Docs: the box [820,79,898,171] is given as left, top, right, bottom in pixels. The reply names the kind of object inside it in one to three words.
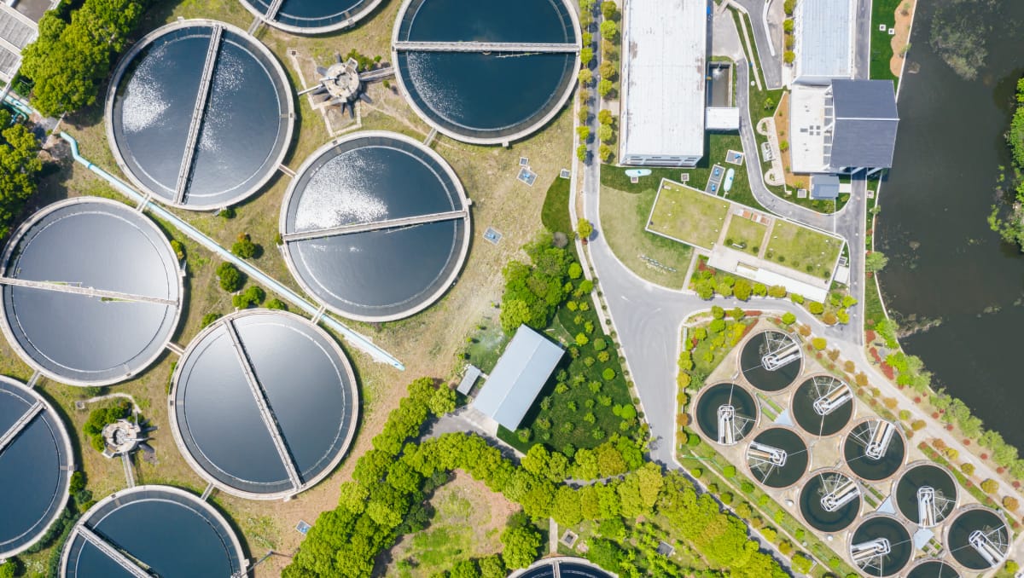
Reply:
building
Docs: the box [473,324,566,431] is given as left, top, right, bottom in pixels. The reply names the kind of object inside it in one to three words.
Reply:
shed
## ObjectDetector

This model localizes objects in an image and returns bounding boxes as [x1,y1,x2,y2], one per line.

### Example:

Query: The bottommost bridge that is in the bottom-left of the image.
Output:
[73,522,158,578]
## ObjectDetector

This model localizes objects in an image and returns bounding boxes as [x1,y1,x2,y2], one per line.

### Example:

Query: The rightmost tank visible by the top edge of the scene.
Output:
[392,0,582,149]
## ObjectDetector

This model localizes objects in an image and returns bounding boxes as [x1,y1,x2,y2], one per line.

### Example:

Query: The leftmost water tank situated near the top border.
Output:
[105,16,298,213]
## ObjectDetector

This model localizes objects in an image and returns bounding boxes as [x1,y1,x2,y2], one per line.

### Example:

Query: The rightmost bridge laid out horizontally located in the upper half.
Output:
[392,43,581,55]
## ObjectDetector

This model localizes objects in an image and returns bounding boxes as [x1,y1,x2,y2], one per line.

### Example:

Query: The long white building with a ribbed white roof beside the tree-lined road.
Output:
[620,0,707,163]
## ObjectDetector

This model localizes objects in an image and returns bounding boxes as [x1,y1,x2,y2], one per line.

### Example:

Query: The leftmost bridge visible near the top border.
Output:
[175,20,225,208]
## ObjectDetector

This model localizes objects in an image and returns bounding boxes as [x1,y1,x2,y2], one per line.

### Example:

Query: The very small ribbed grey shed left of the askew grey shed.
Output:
[458,365,481,395]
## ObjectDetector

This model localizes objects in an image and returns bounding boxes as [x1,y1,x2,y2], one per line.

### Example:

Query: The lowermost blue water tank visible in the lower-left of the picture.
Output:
[59,483,257,578]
